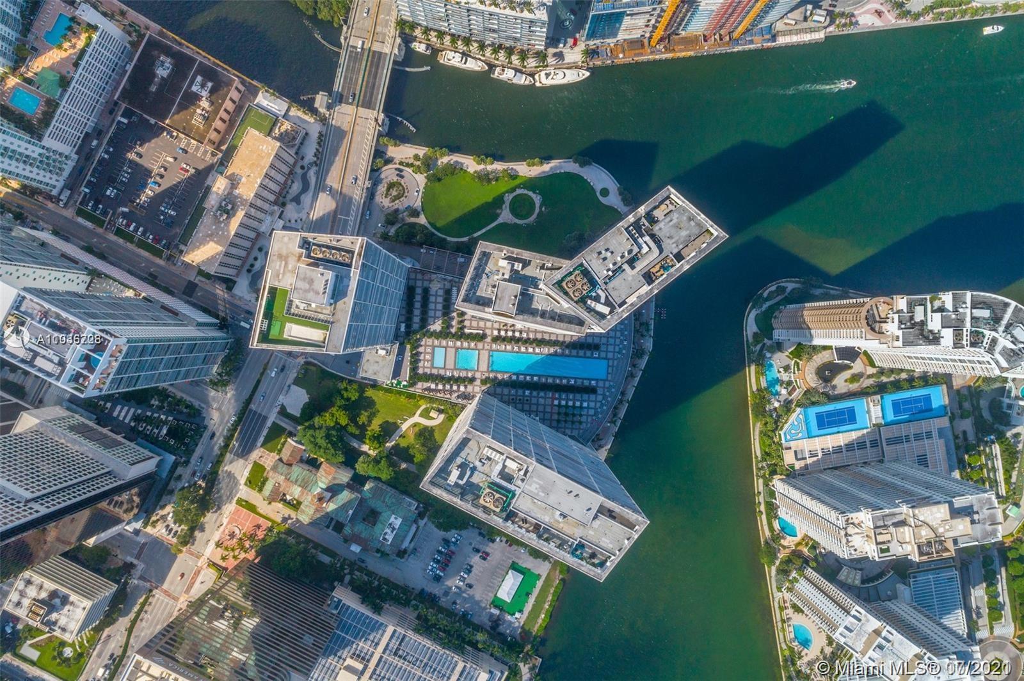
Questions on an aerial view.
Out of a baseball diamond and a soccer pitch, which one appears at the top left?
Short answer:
soccer pitch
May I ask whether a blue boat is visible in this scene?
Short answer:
No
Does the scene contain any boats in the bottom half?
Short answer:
No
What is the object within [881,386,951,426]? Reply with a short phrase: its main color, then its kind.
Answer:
blue tennis court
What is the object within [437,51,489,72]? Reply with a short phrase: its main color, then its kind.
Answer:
white boat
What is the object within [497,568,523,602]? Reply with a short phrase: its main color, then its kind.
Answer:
white tent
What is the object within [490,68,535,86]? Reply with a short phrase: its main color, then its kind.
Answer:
white boat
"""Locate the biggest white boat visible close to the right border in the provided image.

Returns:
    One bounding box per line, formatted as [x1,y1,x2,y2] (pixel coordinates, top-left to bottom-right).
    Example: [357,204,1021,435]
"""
[979,24,1004,36]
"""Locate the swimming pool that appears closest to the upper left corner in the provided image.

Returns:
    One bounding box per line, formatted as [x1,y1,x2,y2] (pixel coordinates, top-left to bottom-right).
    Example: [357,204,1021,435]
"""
[42,11,72,47]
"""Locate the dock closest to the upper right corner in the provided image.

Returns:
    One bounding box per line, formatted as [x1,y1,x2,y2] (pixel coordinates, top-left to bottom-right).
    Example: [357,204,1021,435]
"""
[775,27,826,49]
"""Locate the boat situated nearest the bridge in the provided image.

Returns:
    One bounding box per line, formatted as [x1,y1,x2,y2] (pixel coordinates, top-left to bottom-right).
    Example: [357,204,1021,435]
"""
[411,42,432,54]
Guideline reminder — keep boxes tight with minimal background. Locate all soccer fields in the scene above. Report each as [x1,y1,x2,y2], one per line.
[211,103,277,171]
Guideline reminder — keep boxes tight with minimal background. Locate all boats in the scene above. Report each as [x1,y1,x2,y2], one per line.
[437,51,489,72]
[533,68,591,88]
[979,24,1004,36]
[490,68,535,86]
[838,80,856,88]
[411,42,432,54]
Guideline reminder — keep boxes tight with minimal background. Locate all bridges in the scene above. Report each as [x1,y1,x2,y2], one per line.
[301,0,407,237]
